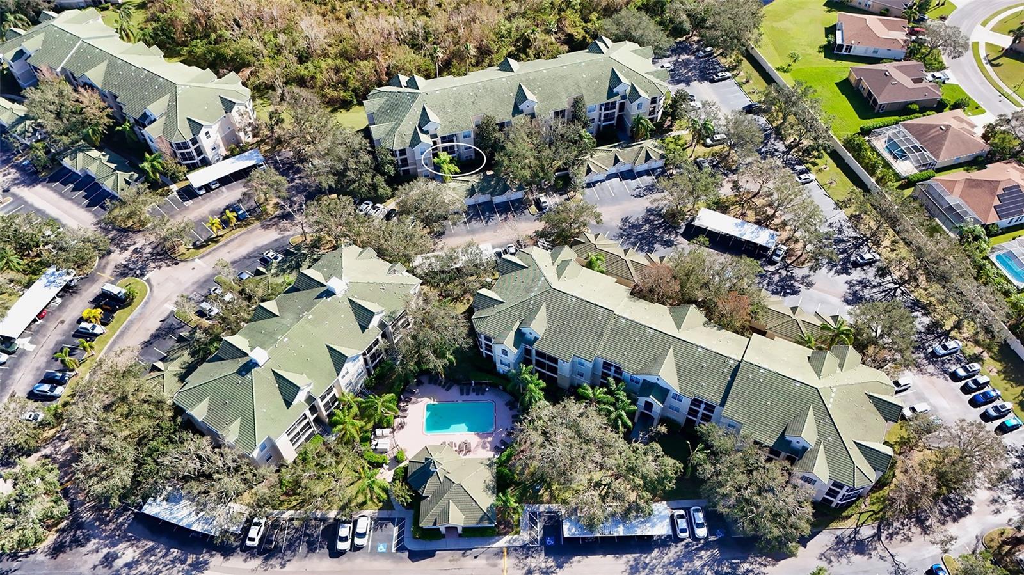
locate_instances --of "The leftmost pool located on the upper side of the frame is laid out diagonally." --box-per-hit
[889,143,912,161]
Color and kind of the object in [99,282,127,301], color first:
white vehicle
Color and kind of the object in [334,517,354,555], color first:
white vehicle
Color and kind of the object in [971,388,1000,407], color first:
blue car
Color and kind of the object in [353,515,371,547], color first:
white car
